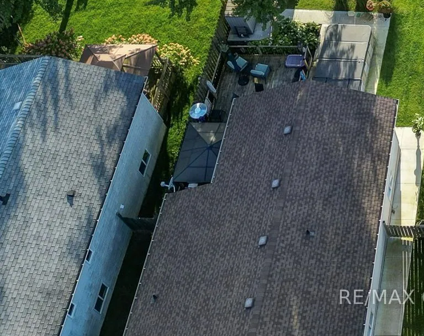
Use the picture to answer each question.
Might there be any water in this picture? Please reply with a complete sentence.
No, the scene doesn't show any water.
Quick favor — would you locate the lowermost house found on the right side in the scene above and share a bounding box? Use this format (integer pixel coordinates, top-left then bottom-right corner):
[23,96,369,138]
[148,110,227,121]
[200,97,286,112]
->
[124,82,401,336]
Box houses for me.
[0,56,167,336]
[124,82,401,336]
